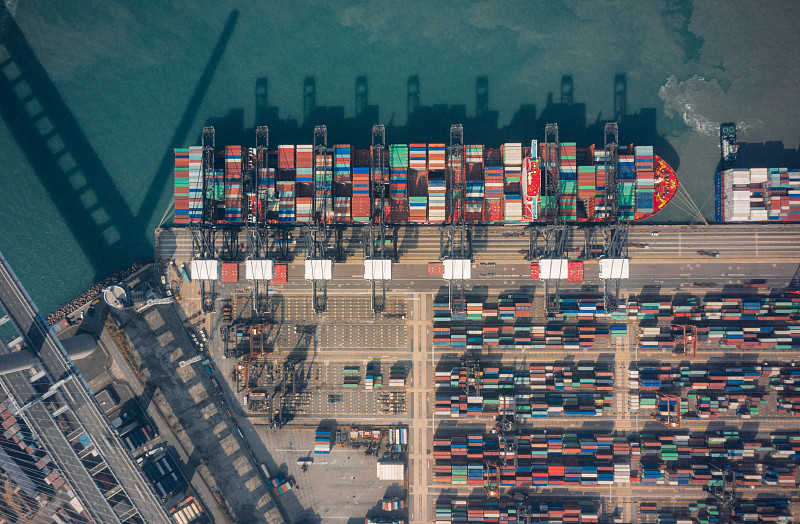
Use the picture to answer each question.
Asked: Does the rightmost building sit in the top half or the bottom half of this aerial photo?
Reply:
bottom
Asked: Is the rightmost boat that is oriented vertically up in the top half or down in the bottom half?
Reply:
top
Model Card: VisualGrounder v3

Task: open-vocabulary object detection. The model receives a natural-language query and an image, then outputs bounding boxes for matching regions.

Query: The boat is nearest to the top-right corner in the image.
[719,123,740,170]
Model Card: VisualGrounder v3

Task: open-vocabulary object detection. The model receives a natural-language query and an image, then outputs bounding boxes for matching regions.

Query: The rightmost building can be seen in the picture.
[378,460,404,480]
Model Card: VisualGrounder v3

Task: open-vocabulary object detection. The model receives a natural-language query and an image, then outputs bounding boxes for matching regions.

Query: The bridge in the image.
[0,242,196,524]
